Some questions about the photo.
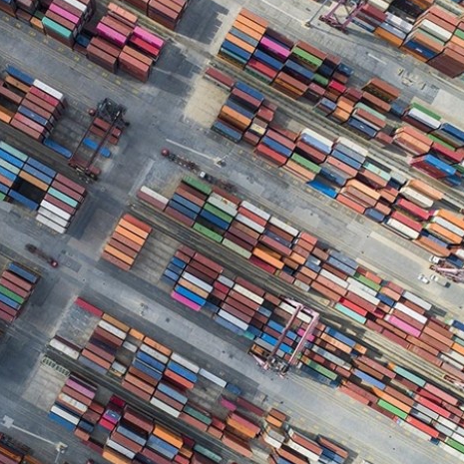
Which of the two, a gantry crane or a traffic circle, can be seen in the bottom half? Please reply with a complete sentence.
There is a gantry crane in the bottom half.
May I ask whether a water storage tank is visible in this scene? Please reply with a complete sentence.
No, this view has no water storage tank in it.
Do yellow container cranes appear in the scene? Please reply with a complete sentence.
No, the frame has no yellow container crane in it.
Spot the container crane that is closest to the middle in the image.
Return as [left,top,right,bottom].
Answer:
[250,293,324,378]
